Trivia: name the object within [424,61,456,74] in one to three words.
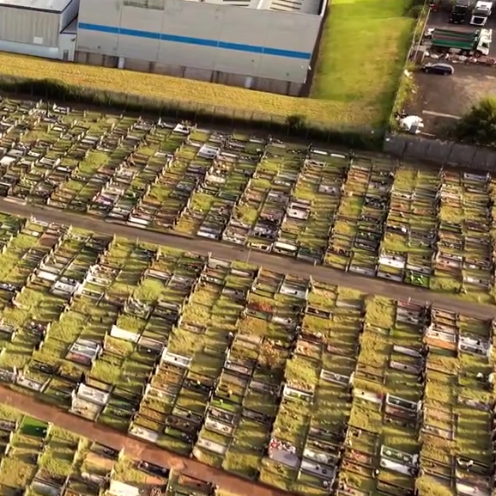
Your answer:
vehicle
